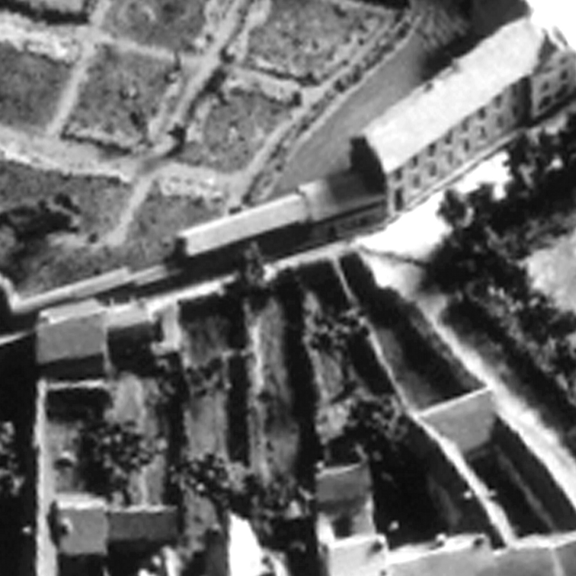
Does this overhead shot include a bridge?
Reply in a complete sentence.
No, no bridge is visible in the scene.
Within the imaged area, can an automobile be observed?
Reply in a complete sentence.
No, I can't see a single automobile in this photo.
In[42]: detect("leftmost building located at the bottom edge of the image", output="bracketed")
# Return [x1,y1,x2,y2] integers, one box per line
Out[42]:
[55,498,111,576]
